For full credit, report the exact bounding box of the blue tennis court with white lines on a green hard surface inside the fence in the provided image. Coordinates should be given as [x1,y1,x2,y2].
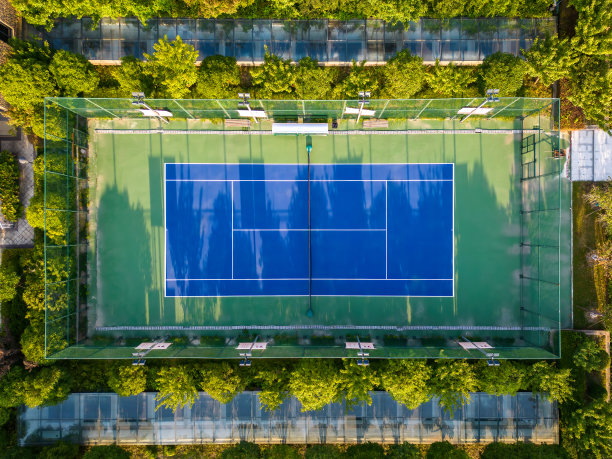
[87,117,571,338]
